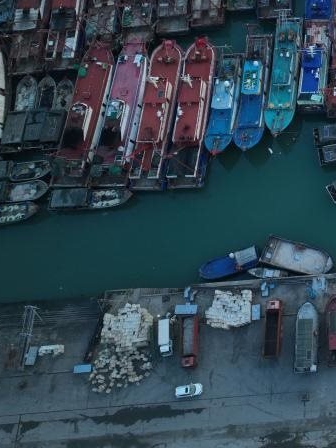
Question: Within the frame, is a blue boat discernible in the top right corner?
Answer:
Yes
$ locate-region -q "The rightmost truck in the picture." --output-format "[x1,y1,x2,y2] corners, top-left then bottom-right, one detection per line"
[262,300,284,358]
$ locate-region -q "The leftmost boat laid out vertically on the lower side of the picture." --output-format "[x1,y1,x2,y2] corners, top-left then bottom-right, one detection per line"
[291,300,322,374]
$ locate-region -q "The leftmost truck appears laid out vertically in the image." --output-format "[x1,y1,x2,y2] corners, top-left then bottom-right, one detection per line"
[156,314,178,360]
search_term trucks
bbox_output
[156,314,178,360]
[262,300,284,358]
[177,315,202,370]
